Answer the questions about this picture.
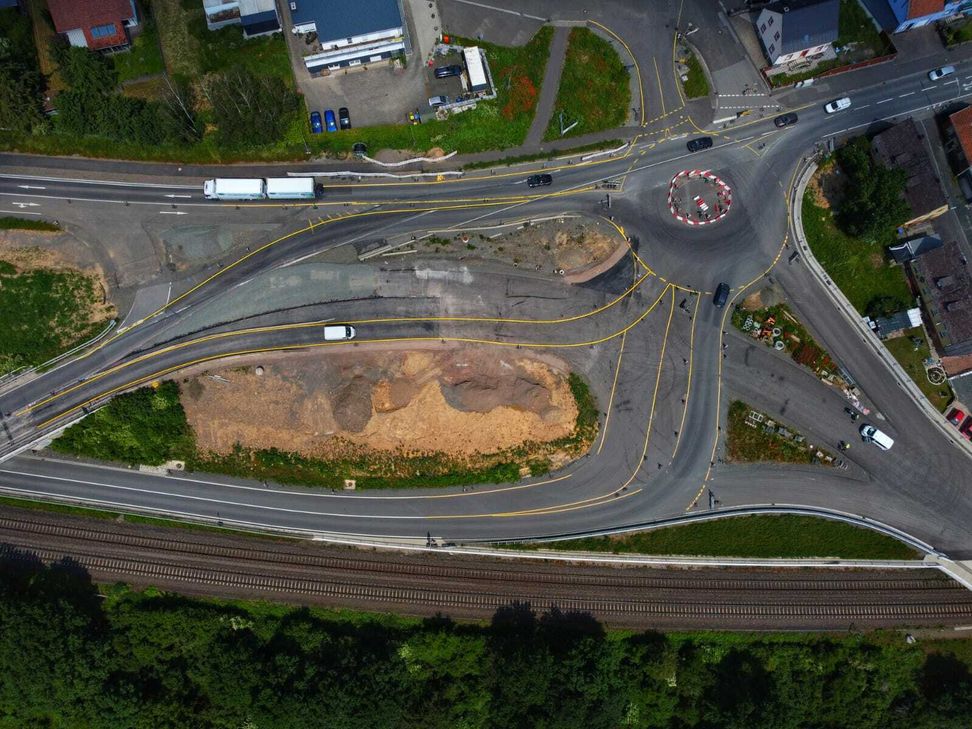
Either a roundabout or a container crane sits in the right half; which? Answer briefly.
roundabout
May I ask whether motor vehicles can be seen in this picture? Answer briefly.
Yes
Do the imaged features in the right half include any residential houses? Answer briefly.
Yes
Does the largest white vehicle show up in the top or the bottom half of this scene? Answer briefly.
top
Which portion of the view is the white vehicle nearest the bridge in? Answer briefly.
right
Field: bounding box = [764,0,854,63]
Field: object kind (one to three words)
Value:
house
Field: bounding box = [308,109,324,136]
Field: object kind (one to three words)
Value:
car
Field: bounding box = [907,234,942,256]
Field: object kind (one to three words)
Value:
shed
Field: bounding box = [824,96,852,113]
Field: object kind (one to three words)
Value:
car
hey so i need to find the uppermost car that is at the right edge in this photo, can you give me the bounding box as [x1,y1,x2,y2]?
[926,65,957,81]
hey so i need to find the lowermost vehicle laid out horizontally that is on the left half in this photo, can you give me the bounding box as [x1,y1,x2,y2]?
[324,326,358,341]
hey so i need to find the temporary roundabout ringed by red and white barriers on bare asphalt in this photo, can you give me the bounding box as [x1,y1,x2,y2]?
[626,147,782,268]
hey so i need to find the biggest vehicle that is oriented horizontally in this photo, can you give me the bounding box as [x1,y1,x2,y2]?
[208,178,326,198]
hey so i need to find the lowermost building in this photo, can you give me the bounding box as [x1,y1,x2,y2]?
[940,373,972,419]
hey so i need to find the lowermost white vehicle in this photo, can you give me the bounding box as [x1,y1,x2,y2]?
[857,426,894,451]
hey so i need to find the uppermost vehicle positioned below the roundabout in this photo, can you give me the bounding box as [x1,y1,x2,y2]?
[714,281,729,308]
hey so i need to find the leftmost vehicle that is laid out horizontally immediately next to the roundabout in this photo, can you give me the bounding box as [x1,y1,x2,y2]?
[685,137,715,152]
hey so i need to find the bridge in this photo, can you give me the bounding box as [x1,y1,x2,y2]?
[925,547,972,591]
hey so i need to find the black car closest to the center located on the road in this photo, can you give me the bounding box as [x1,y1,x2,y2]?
[526,174,552,187]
